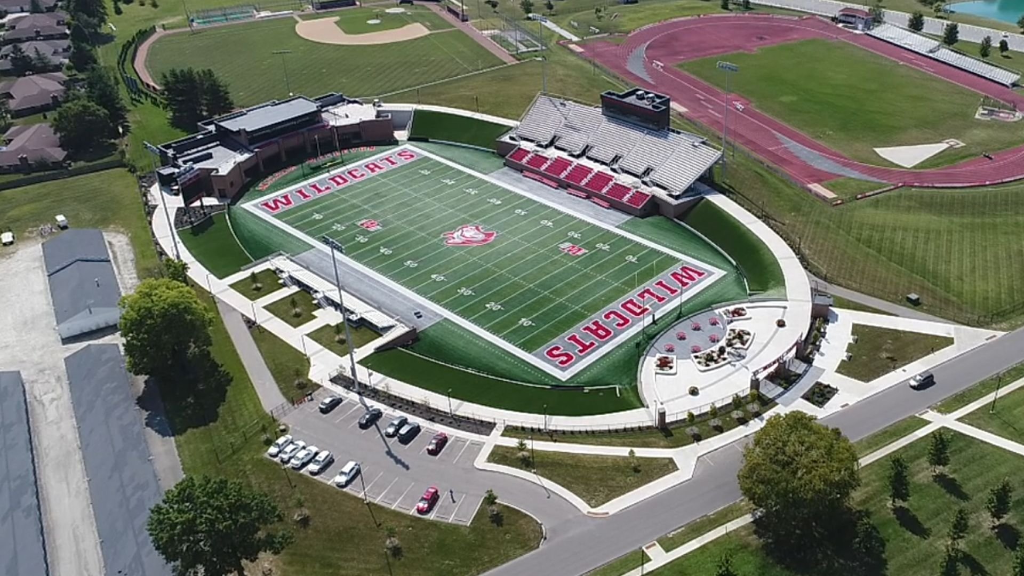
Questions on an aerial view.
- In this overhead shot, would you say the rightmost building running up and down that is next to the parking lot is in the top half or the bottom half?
bottom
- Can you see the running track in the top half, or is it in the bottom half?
top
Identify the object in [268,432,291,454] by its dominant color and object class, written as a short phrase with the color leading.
white car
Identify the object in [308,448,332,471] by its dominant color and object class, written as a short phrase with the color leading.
white car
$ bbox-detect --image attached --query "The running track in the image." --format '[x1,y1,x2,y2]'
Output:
[574,14,1024,204]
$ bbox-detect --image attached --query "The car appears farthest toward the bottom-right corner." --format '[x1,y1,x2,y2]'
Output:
[910,369,935,387]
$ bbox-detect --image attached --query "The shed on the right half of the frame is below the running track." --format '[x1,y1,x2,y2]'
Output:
[813,295,833,317]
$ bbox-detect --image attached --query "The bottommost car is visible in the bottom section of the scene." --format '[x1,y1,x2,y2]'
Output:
[415,488,439,511]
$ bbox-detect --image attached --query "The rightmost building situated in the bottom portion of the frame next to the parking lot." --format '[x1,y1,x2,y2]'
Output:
[65,343,172,576]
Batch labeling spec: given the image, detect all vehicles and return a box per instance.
[383,415,407,434]
[910,369,935,387]
[334,459,359,484]
[358,407,382,426]
[0,232,12,243]
[291,445,317,466]
[425,432,449,452]
[279,440,303,460]
[396,419,421,441]
[415,488,439,511]
[54,217,67,227]
[318,394,342,412]
[268,432,291,454]
[308,448,332,471]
